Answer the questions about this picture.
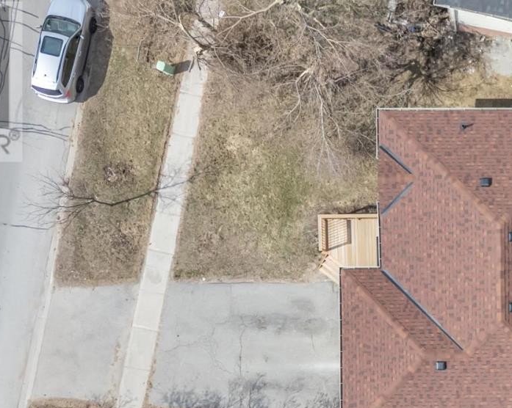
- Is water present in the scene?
No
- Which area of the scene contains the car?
top left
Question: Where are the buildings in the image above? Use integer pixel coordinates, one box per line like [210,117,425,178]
[430,0,512,40]
[338,105,512,408]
